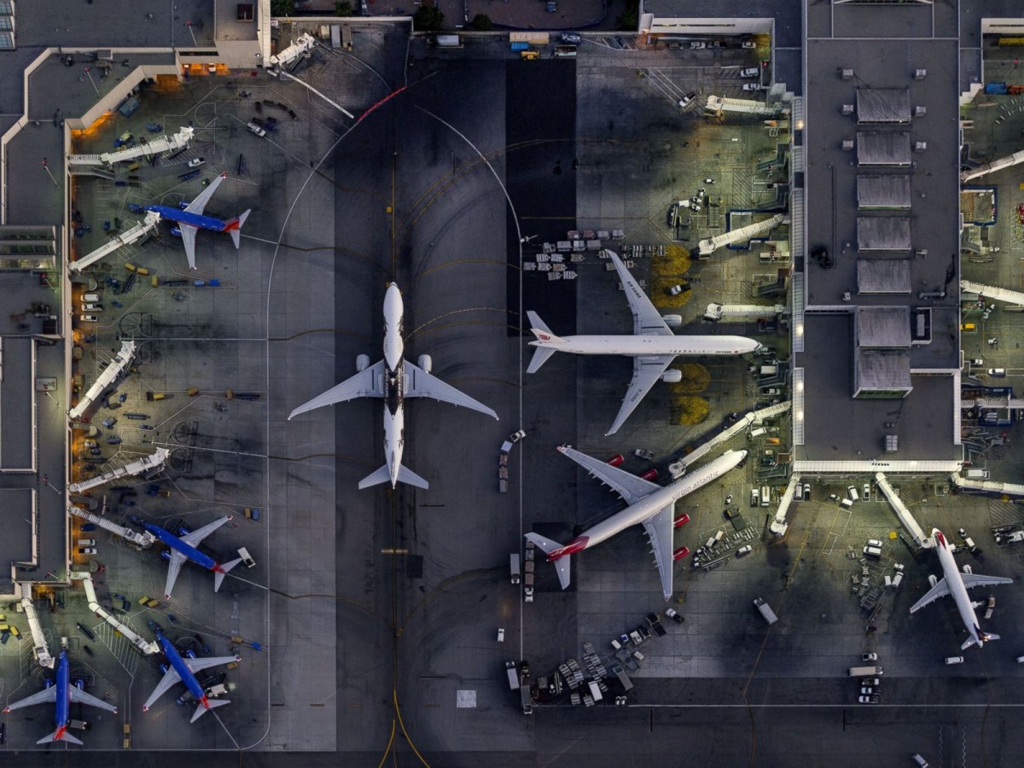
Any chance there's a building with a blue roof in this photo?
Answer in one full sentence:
No, the frame has no building with a blue roof in it.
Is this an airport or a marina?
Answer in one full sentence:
What you see here is an airport.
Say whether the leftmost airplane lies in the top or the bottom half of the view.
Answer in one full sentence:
The leftmost airplane is in the bottom half of the image.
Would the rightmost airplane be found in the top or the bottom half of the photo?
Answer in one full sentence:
The rightmost airplane is in the bottom half of the image.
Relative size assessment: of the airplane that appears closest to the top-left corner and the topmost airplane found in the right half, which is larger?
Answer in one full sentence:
The airplane that appears closest to the top-left corner is smaller than the topmost airplane found in the right half.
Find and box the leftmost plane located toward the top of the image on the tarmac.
[147,170,251,269]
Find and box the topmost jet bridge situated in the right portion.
[699,97,789,129]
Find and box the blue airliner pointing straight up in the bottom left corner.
[0,651,116,745]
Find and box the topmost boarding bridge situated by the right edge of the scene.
[959,150,1024,188]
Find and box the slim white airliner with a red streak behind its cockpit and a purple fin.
[911,528,1014,649]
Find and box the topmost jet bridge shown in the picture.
[272,31,319,80]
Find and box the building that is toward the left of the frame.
[0,0,273,598]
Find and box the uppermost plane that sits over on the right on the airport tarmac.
[527,250,760,436]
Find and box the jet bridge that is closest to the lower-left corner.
[21,583,59,670]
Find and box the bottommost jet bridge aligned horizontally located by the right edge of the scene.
[943,473,1024,497]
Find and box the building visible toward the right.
[636,0,1024,473]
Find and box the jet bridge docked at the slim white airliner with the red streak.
[870,473,936,550]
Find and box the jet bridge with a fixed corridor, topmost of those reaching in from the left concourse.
[69,126,201,173]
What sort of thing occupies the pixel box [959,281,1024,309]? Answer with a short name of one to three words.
jet bridge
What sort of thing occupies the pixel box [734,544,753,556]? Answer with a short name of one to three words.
vehicle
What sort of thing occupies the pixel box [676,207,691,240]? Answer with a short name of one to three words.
work vehicle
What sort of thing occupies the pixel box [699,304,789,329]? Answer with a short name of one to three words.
jet bridge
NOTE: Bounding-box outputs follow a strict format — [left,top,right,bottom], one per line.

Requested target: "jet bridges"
[69,204,168,279]
[664,399,789,483]
[770,473,804,541]
[959,281,1024,309]
[870,473,936,550]
[699,304,789,329]
[959,150,1024,188]
[69,503,162,549]
[69,126,201,173]
[69,335,139,423]
[69,443,177,496]
[962,398,1024,412]
[943,473,1024,497]
[699,97,789,129]
[693,212,789,262]
[69,571,167,655]
[21,583,59,670]
[272,31,319,80]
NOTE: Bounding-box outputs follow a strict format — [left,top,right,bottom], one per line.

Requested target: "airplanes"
[143,633,242,723]
[527,250,760,436]
[0,651,116,745]
[145,514,241,599]
[525,446,746,603]
[911,528,1014,649]
[288,284,498,490]
[147,170,251,269]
